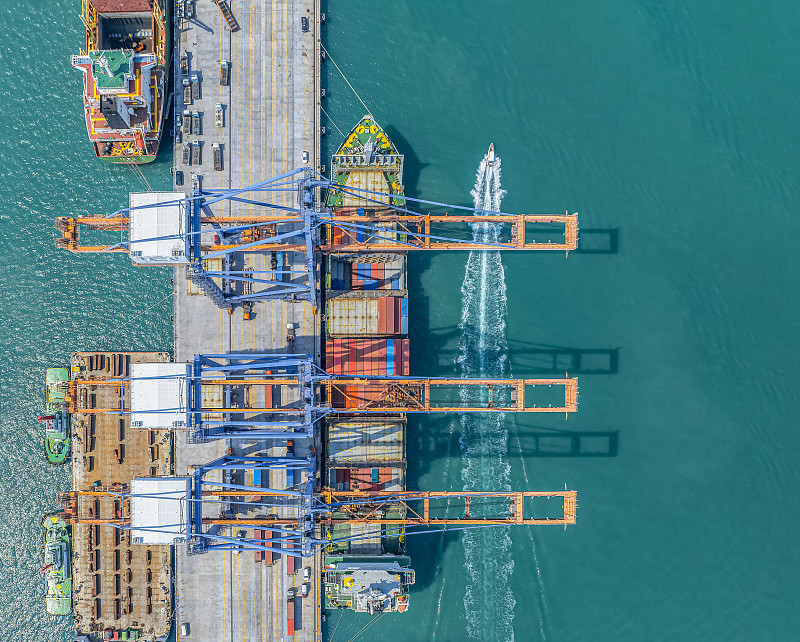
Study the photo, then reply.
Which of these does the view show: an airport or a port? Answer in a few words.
port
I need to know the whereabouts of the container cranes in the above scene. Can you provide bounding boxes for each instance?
[53,165,584,315]
[53,351,584,447]
[53,446,584,562]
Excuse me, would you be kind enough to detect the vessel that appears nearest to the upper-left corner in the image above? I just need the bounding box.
[72,0,173,171]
